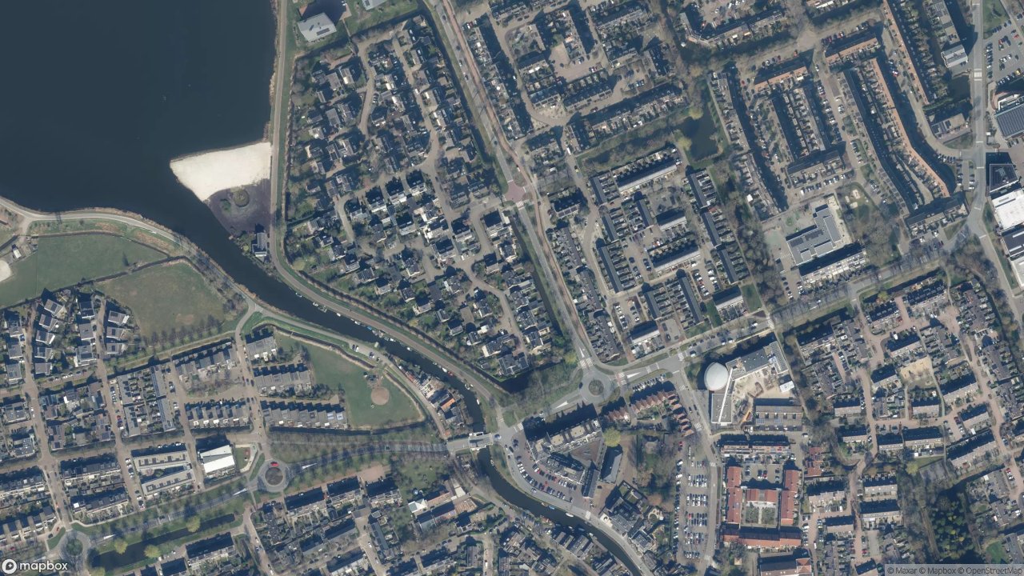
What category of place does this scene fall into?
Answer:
residential area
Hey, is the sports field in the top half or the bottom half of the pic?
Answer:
bottom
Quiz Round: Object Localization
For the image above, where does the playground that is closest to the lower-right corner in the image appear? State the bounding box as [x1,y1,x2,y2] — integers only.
[900,357,934,389]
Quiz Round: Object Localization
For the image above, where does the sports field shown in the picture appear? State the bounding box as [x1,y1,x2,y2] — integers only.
[280,332,421,428]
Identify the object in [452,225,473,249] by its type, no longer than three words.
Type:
house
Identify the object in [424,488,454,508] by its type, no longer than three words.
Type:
building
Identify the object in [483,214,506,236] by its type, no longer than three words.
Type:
house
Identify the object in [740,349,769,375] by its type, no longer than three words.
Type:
building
